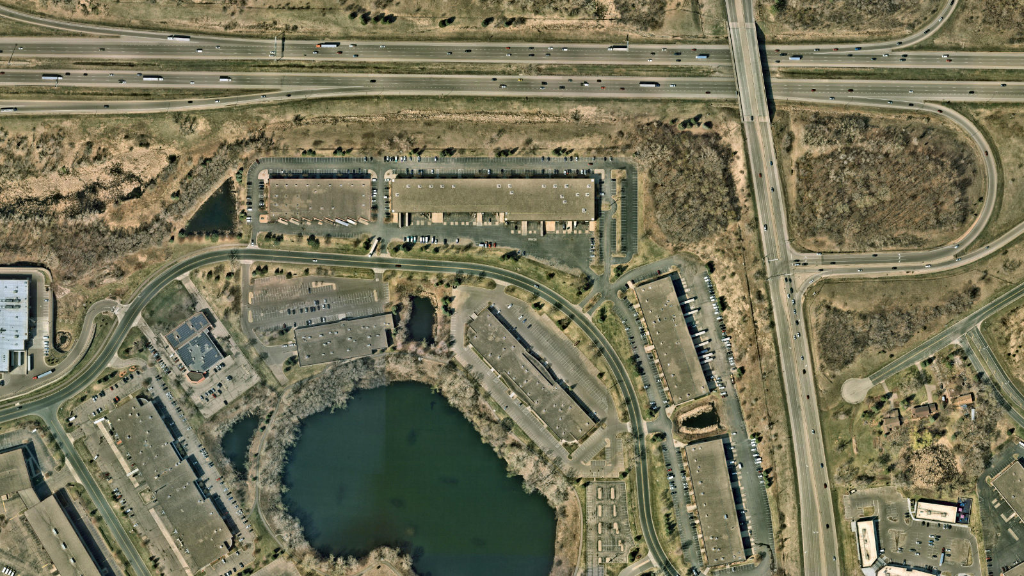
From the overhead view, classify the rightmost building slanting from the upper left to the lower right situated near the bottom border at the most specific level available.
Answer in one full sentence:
The rightmost building slanting from the upper left to the lower right situated near the bottom border is a warehouse.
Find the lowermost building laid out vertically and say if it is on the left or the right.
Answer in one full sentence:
The lowermost building laid out vertically appears in the right half of the scene.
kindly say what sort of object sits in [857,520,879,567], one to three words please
building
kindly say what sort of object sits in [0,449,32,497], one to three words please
building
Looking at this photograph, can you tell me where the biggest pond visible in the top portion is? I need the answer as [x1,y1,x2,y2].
[185,181,236,235]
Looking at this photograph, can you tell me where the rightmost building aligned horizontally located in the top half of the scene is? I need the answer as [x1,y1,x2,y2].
[392,178,595,221]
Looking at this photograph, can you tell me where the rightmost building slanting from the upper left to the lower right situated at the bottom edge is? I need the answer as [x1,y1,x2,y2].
[93,398,232,568]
